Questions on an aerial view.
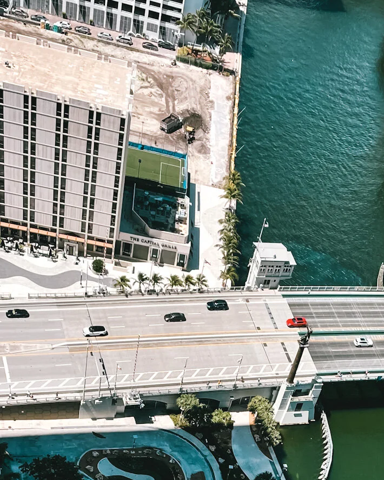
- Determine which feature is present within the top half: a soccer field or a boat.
soccer field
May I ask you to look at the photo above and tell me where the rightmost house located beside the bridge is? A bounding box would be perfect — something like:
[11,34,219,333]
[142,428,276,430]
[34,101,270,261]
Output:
[248,210,296,290]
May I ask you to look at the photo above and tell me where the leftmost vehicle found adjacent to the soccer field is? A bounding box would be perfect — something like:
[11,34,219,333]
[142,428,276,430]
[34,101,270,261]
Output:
[158,107,186,130]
